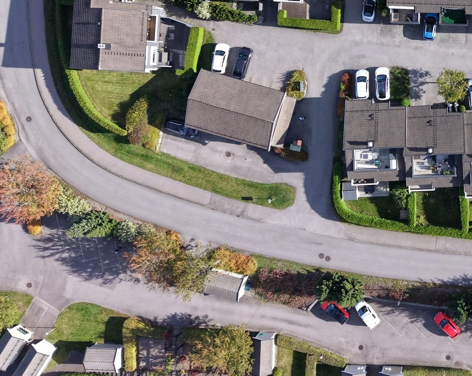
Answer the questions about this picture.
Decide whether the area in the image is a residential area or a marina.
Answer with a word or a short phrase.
residential area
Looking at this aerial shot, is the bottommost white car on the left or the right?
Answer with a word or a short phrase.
right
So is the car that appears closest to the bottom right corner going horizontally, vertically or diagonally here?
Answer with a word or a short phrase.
diagonally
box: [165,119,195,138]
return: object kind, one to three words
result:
car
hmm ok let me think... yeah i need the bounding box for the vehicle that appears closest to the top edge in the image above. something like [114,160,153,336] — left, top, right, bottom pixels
[362,0,377,21]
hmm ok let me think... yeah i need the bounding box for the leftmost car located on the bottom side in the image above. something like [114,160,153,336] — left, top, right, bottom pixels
[322,301,349,325]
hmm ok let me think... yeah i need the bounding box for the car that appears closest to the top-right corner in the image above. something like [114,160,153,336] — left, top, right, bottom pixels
[423,15,439,41]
